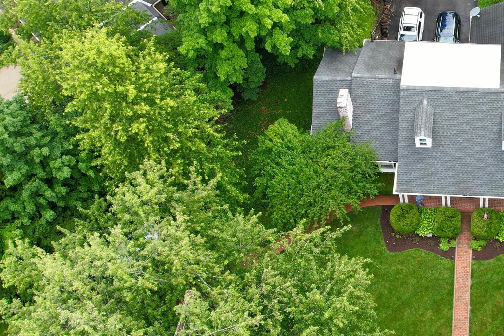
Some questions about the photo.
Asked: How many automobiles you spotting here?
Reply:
two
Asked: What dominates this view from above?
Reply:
trees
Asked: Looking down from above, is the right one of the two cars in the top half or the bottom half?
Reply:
top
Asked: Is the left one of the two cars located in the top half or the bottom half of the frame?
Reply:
top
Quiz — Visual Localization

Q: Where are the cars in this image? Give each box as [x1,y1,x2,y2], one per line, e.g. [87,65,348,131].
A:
[435,12,461,40]
[396,6,426,41]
